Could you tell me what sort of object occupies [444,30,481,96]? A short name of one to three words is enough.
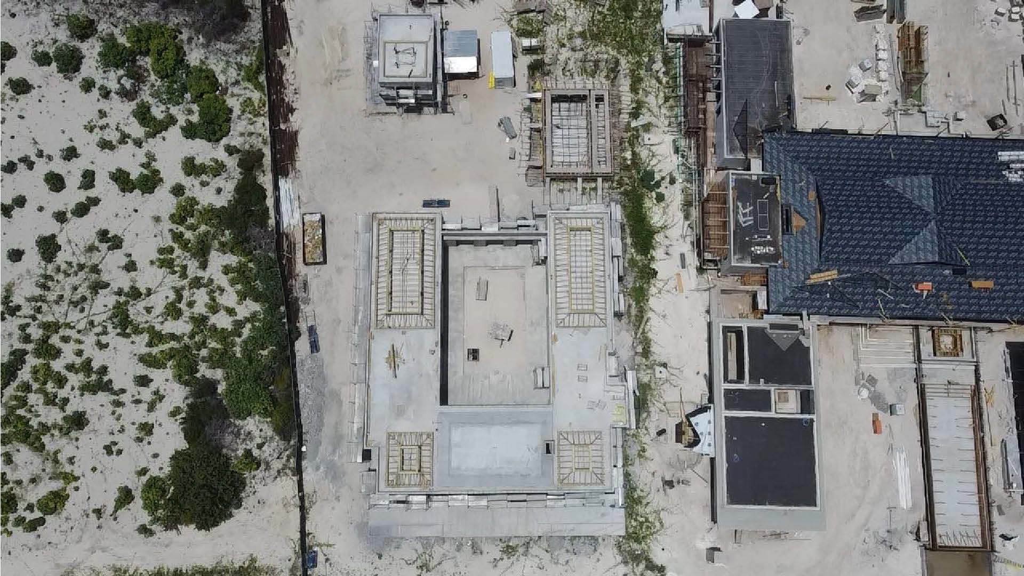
shed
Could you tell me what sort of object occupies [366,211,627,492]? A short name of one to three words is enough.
building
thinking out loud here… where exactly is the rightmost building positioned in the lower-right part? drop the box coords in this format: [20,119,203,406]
[707,323,826,529]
